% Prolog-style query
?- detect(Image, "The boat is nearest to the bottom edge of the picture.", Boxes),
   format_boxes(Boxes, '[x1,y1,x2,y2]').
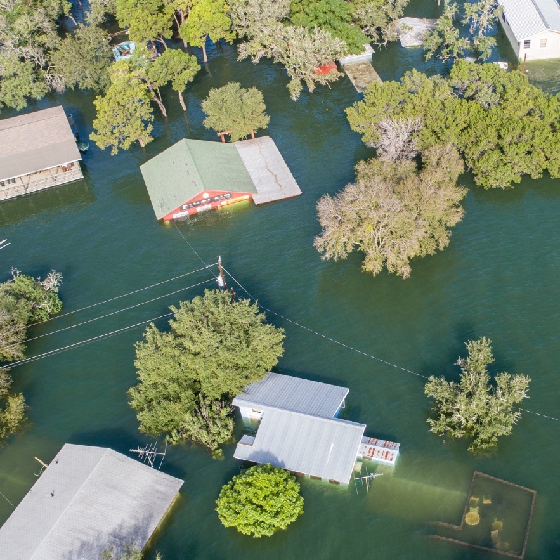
[75,136,90,152]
